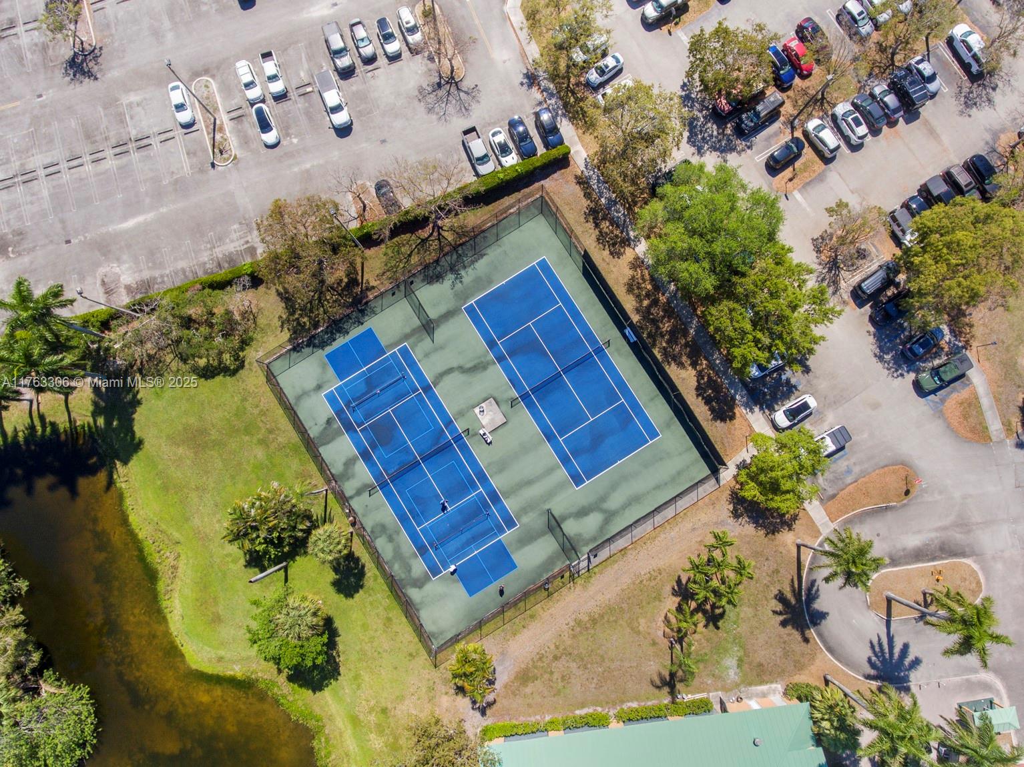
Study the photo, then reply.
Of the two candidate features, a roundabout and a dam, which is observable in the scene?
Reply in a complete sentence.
Visible in the photo is a roundabout.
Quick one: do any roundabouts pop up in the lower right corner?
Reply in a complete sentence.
Yes, in the lower right corner there is a roundabout.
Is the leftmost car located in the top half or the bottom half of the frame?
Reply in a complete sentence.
You can find the leftmost car in the top half.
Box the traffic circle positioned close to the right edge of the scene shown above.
[866,559,984,620]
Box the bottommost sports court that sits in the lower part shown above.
[406,464,519,601]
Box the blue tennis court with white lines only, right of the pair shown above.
[462,256,662,490]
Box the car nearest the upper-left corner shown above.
[169,84,197,127]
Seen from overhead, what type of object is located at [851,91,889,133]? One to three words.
car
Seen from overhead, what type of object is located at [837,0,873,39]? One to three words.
car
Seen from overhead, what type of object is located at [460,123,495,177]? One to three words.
truck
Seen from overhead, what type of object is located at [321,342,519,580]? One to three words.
tennis court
